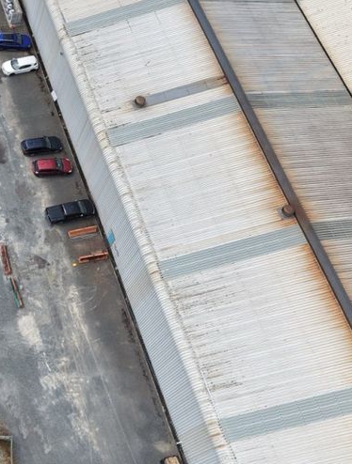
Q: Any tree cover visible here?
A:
No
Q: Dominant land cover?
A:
buildings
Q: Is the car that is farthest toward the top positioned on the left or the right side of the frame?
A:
left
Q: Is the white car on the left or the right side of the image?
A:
left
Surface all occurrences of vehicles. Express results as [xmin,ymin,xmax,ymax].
[2,55,39,76]
[33,157,73,177]
[45,199,95,224]
[0,31,31,51]
[21,134,64,155]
